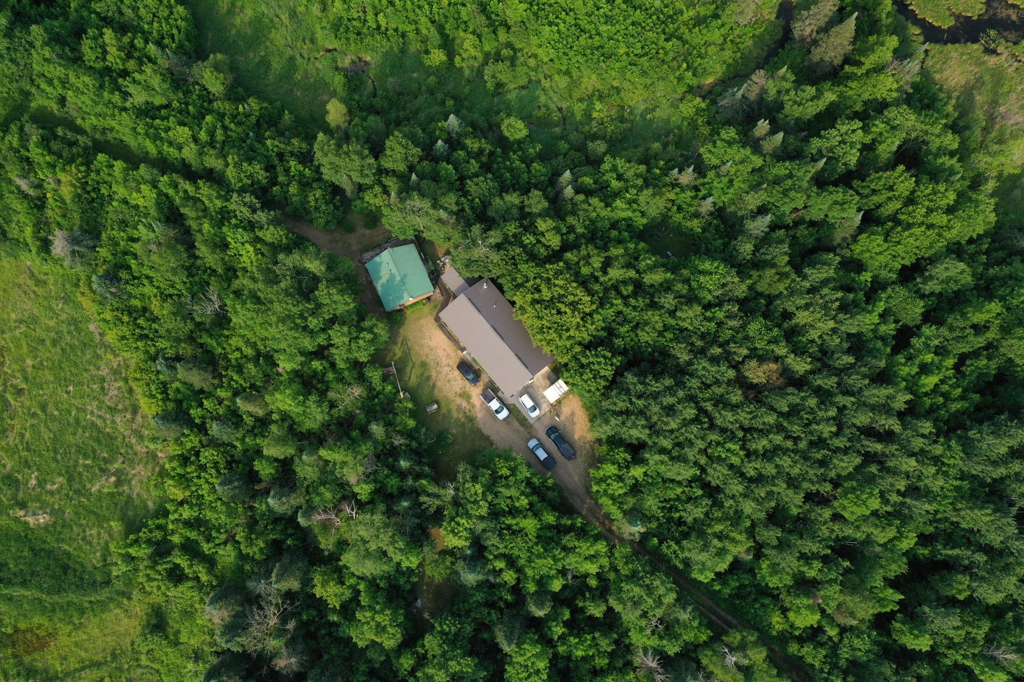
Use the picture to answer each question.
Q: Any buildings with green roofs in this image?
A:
Yes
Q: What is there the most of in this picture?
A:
trees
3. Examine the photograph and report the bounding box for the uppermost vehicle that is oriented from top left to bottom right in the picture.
[455,359,481,389]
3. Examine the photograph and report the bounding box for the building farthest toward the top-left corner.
[365,244,434,311]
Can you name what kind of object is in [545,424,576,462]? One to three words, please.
truck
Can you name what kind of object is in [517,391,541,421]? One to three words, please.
car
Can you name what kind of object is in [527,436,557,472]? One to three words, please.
truck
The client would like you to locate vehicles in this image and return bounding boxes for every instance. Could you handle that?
[517,391,541,421]
[527,436,557,472]
[545,424,576,462]
[455,359,481,389]
[478,386,510,421]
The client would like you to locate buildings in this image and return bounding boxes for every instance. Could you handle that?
[439,277,557,399]
[365,244,434,311]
